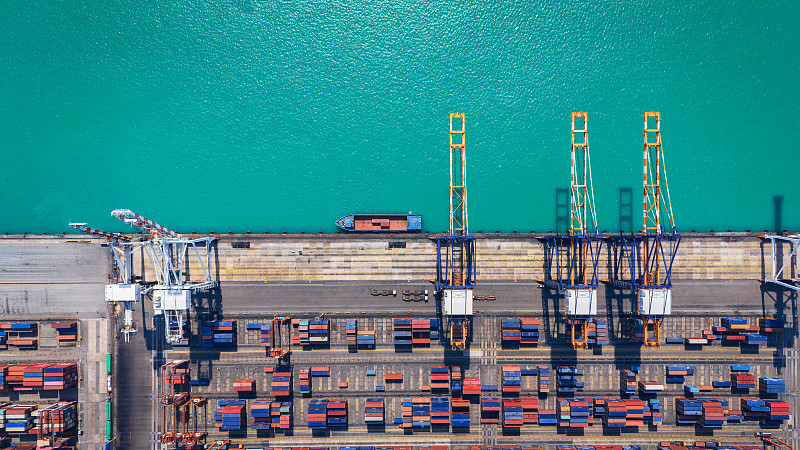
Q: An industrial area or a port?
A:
port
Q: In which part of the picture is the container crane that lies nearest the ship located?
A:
center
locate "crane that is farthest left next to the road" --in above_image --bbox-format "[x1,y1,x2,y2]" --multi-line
[41,399,81,450]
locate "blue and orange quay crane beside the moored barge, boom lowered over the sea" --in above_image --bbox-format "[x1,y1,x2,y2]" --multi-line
[429,112,478,350]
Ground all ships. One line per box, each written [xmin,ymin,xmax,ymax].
[325,213,434,235]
